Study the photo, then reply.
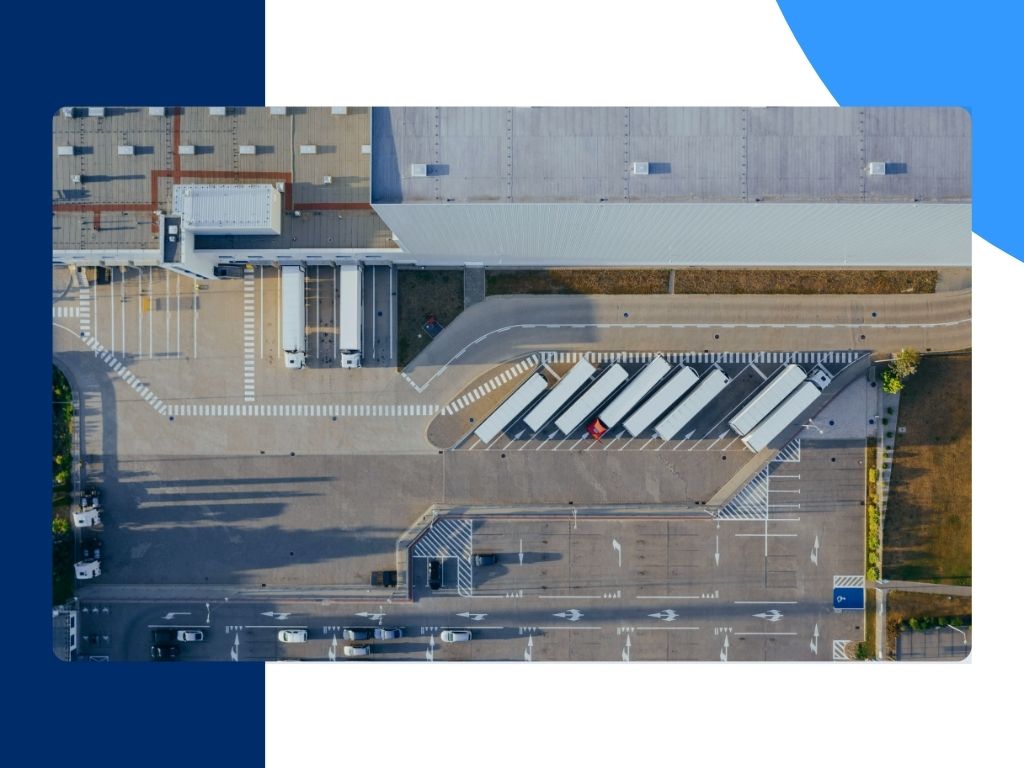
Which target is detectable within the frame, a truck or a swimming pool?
truck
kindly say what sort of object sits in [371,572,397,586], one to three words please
vehicle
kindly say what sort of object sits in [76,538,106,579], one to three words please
truck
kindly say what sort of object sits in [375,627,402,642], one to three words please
car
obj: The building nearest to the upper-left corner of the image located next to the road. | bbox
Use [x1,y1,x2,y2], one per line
[0,0,412,282]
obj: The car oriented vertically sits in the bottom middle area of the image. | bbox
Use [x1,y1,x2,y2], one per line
[427,559,441,588]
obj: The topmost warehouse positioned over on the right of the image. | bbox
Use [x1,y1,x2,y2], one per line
[371,0,1024,272]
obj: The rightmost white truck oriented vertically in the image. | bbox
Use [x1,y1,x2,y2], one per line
[340,266,361,369]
